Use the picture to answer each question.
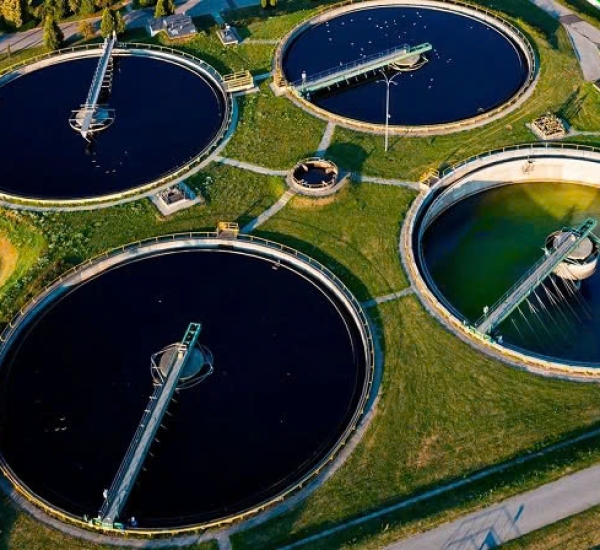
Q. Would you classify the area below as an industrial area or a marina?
industrial area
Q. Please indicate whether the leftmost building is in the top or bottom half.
top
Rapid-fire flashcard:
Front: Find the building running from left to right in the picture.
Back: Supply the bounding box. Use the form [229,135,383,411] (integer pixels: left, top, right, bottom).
[146,21,199,46]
